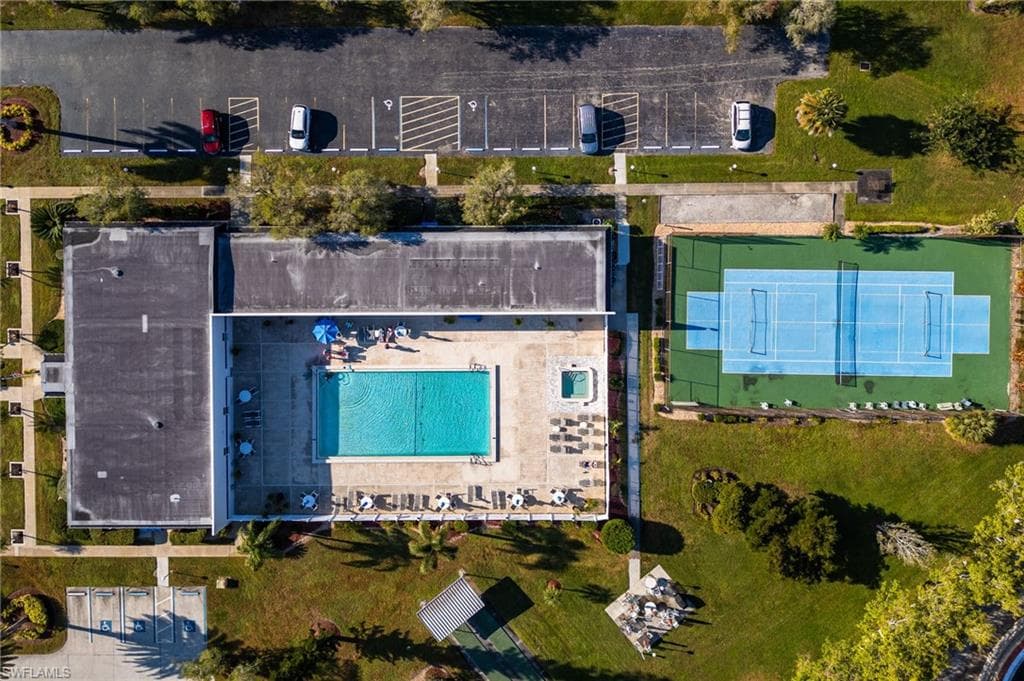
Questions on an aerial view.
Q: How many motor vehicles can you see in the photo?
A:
four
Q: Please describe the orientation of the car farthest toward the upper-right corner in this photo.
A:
from top to bottom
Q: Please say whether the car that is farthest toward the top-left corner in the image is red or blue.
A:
red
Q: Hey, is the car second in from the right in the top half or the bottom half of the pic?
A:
top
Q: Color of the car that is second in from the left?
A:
white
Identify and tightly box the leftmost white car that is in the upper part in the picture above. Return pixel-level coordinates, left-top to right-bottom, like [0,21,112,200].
[285,103,310,152]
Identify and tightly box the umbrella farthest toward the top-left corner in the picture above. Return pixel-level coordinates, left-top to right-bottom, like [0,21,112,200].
[313,317,341,344]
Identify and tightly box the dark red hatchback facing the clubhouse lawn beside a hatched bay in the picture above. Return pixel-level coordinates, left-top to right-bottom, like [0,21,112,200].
[197,109,222,154]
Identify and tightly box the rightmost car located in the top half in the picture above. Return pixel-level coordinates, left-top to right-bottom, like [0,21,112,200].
[730,101,754,150]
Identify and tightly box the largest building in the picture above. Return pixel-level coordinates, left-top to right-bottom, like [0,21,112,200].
[41,220,616,536]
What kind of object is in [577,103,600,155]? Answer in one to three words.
car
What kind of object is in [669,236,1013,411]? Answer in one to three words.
tennis court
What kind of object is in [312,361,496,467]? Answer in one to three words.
swimming pool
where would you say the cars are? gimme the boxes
[577,103,600,155]
[197,109,222,154]
[285,103,310,152]
[730,101,754,150]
